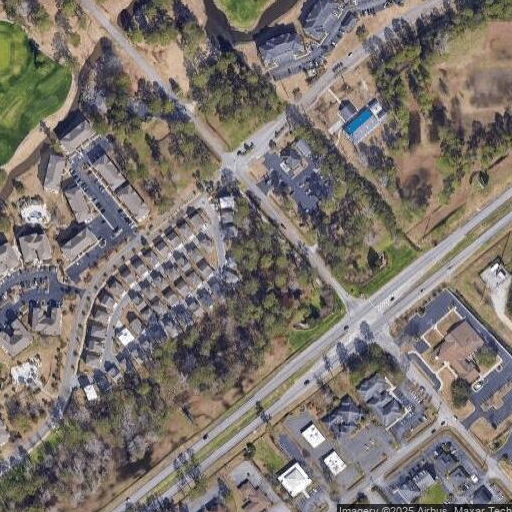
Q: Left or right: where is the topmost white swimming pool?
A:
left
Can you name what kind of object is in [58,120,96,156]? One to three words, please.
building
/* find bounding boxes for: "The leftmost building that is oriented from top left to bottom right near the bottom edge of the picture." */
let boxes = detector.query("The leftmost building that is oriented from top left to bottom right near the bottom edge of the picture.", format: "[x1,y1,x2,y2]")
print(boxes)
[235,476,273,512]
